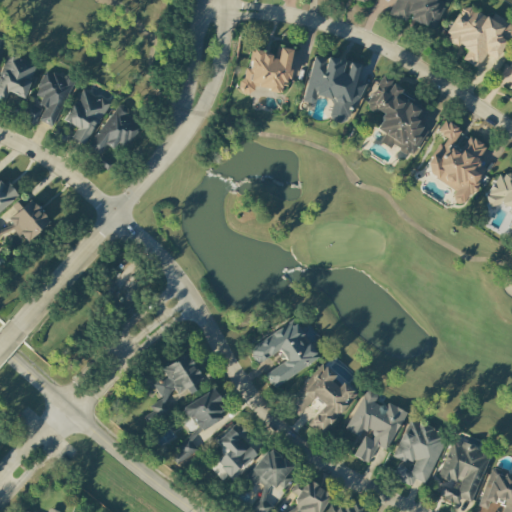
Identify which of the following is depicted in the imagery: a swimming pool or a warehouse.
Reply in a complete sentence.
The image shows a swimming pool.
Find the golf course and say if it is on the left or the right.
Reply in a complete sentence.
The golf course is on the right side of the image.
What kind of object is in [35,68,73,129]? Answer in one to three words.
house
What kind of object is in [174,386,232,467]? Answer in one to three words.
house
